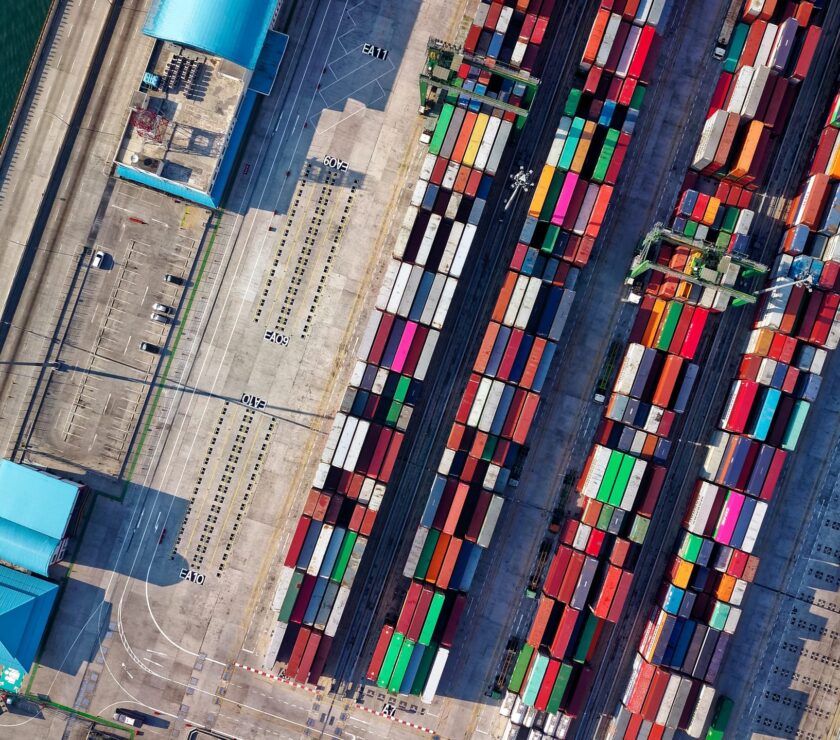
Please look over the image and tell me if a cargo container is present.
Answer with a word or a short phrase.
Yes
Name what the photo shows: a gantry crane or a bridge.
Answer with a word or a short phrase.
gantry crane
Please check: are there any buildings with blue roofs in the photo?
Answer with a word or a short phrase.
Yes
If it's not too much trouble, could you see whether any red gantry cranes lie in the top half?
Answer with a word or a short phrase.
No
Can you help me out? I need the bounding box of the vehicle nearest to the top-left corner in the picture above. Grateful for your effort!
[93,252,106,271]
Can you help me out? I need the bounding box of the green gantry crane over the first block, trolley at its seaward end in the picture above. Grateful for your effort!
[411,30,544,162]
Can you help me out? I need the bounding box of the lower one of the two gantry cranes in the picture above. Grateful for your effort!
[610,213,773,323]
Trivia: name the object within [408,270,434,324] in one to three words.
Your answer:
shipping container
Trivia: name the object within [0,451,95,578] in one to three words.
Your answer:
building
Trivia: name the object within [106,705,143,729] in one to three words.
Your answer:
truck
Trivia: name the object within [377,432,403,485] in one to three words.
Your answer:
shipping container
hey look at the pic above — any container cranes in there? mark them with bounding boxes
[610,213,773,323]
[411,30,544,162]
